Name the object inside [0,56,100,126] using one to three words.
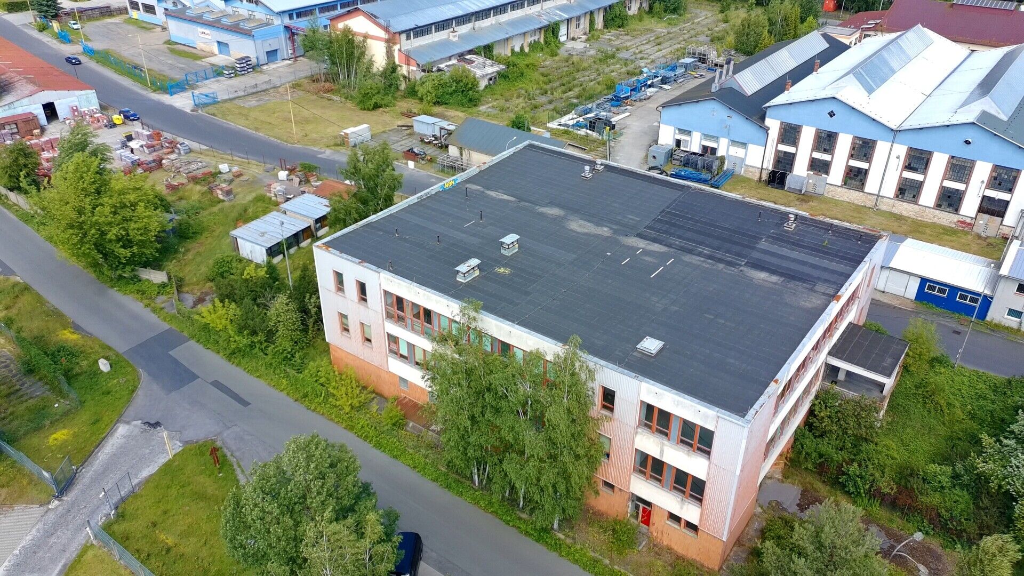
shed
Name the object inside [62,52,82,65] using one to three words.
vehicle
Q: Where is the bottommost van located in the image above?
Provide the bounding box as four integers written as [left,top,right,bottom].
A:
[385,533,425,576]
